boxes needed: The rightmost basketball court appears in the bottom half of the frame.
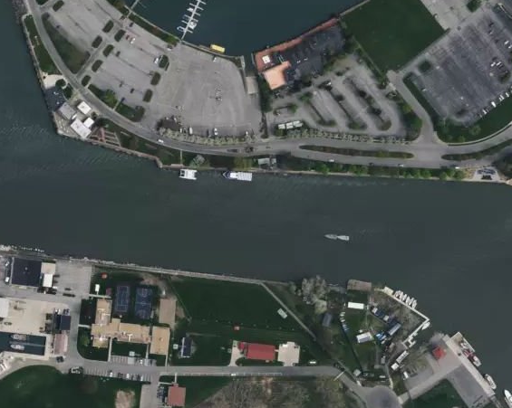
[135,288,152,319]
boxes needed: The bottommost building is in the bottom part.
[168,387,188,407]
